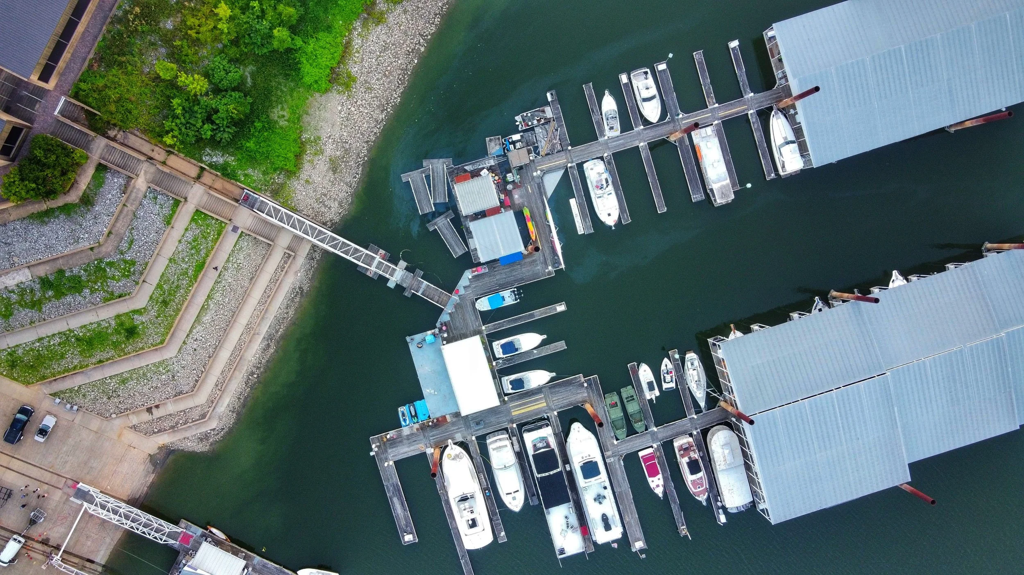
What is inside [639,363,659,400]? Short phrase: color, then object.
white boat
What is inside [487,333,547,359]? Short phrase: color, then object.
white boat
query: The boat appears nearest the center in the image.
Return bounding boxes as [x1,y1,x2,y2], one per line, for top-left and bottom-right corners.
[476,286,523,327]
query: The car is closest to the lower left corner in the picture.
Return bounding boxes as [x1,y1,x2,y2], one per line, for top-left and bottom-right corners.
[0,536,25,569]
